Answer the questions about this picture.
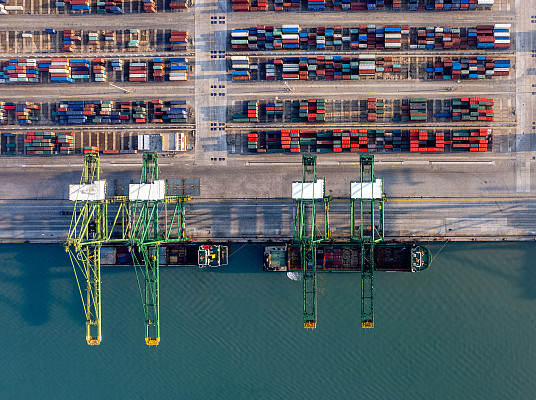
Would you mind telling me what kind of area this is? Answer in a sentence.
The picture captures a port.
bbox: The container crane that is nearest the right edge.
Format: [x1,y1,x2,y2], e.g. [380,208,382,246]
[348,157,387,330]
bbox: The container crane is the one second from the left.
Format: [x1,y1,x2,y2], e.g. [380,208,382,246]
[131,157,193,345]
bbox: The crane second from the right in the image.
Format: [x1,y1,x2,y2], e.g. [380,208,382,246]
[292,157,334,330]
